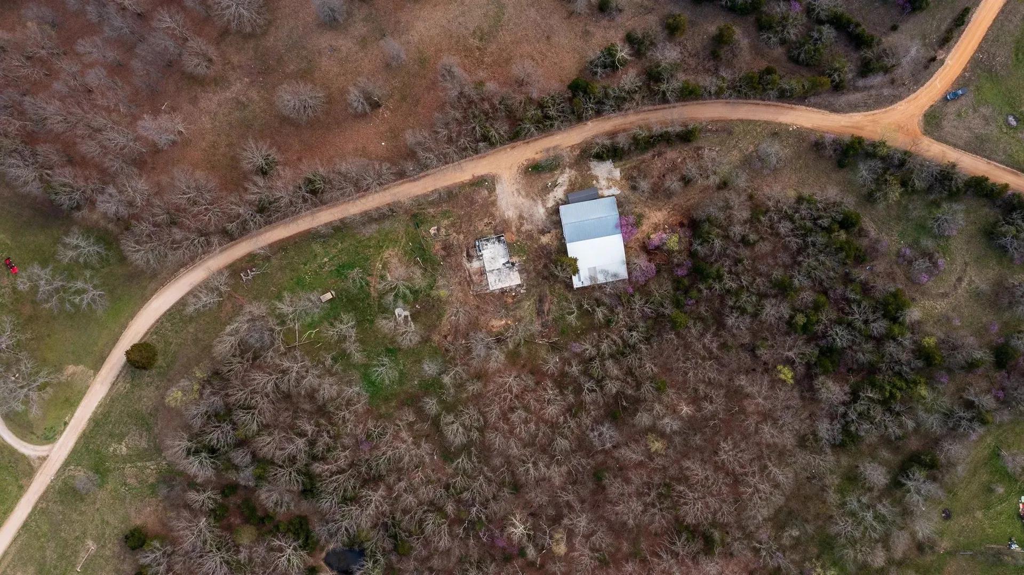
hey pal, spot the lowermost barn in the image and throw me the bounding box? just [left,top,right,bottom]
[559,196,628,289]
